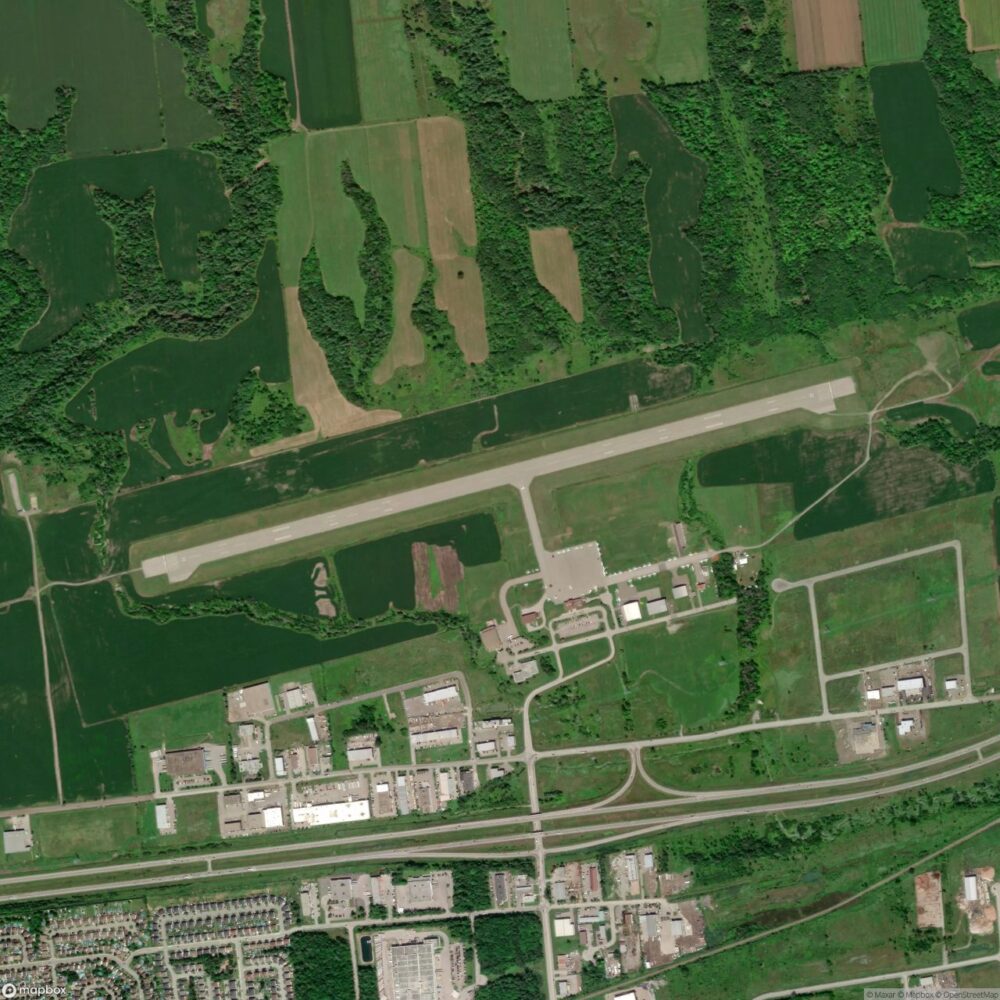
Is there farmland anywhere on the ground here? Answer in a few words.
Yes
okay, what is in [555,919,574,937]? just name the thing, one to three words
building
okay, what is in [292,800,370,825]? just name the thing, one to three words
building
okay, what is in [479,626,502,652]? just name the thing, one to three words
hangar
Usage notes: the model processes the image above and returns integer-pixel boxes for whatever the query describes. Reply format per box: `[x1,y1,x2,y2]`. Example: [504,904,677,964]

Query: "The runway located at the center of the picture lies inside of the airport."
[142,376,856,582]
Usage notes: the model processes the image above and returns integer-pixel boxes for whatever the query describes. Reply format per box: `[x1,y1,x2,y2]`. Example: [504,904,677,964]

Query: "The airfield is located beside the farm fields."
[142,376,856,633]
